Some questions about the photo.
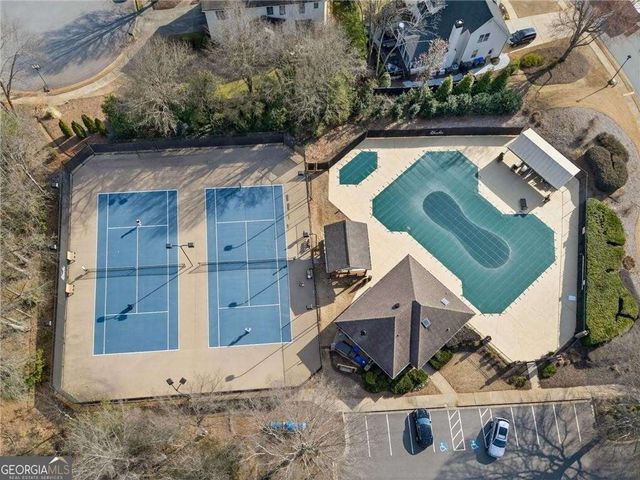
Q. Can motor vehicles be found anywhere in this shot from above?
Yes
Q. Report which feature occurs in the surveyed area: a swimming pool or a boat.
swimming pool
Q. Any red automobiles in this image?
No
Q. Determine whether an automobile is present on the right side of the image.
Yes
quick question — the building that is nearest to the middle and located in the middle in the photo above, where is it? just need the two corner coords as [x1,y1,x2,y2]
[324,220,371,279]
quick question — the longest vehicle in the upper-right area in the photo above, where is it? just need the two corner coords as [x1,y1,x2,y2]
[509,28,539,49]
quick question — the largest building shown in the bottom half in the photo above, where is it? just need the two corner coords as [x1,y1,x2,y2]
[335,254,475,379]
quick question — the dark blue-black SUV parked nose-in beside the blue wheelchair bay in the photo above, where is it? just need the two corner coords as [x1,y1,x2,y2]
[416,411,436,451]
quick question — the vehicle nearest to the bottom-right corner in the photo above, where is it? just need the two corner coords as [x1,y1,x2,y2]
[488,422,509,462]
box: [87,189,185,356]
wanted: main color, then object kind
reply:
blue tennis court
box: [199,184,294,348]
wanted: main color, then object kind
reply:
blue tennis court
